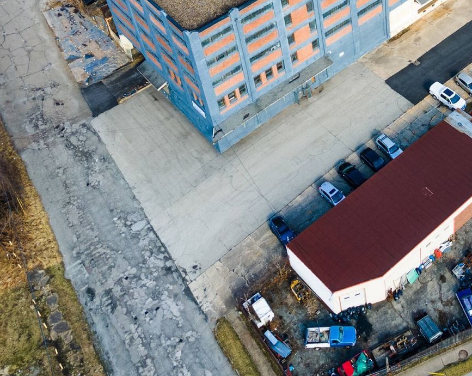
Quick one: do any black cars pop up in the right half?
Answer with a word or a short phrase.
Yes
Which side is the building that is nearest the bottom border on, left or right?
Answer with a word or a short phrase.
right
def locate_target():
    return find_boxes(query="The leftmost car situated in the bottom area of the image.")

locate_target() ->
[265,214,297,250]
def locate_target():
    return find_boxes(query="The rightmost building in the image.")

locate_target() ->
[285,110,472,311]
